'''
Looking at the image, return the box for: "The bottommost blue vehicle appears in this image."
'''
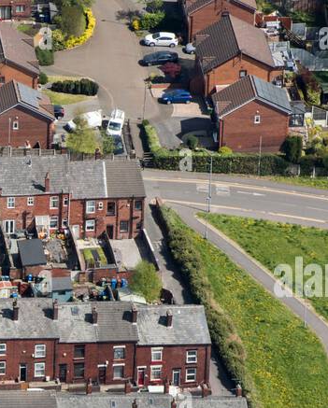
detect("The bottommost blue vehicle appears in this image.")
[160,88,193,103]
